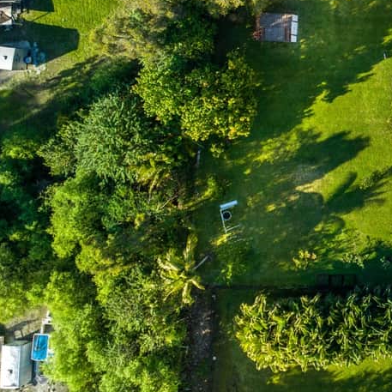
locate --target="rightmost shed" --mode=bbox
[259,14,299,42]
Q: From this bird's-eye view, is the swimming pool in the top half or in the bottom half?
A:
bottom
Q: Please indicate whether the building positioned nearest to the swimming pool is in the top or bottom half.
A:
bottom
